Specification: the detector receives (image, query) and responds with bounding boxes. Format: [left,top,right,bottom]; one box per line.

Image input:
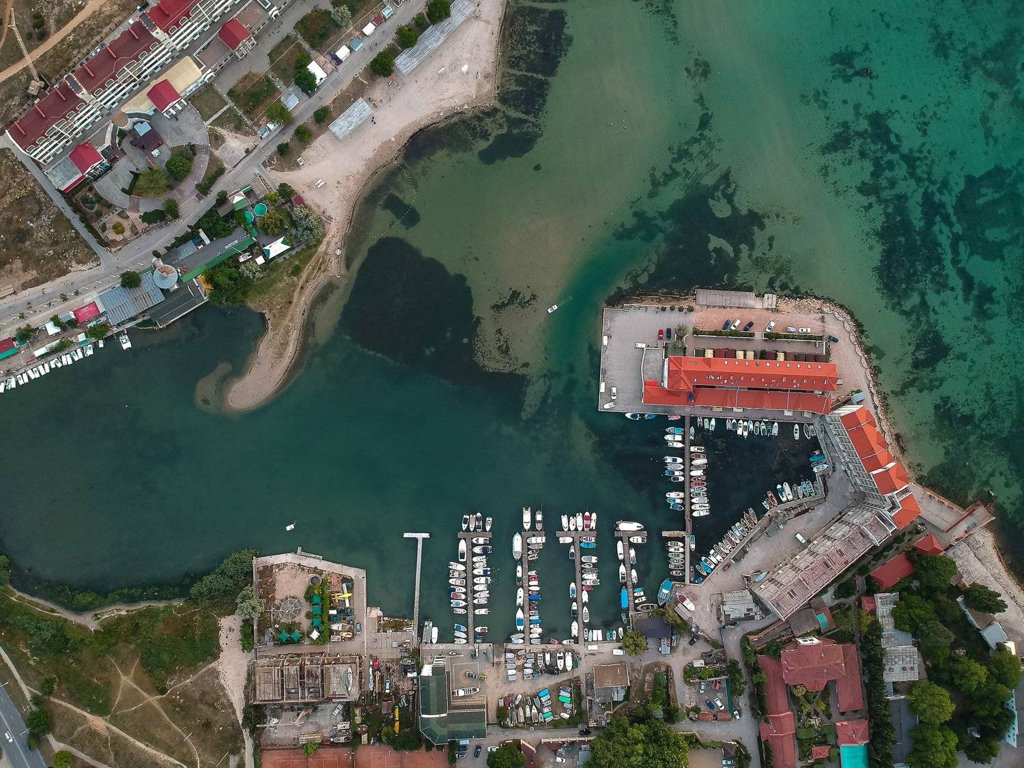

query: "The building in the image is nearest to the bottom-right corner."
[997,682,1020,747]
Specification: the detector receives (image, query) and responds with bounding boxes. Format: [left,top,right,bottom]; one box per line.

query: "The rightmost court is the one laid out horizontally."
[355,746,447,768]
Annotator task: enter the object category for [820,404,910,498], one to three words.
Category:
building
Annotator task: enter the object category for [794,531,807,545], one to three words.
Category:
vehicle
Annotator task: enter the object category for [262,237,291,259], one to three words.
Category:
tent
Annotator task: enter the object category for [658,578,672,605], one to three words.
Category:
ship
